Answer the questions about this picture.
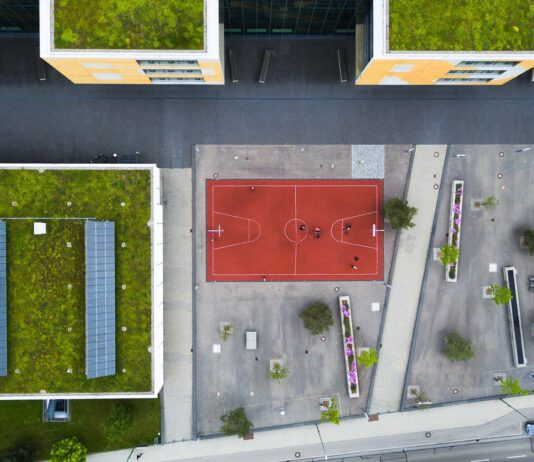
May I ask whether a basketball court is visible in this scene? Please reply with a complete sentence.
Yes, the image includes a basketball court.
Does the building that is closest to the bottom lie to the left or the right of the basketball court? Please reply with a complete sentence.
Compared with the basketball court, the building that is closest to the bottom is located further to the left.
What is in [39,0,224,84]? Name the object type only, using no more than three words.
building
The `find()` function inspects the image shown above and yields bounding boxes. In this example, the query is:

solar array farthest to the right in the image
[84,221,116,379]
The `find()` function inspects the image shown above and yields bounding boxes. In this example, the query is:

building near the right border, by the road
[356,0,534,84]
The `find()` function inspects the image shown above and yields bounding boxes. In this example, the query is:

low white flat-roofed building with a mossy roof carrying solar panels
[0,164,164,399]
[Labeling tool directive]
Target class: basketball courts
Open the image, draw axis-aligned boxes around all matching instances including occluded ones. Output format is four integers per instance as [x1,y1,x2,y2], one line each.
[205,178,385,282]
